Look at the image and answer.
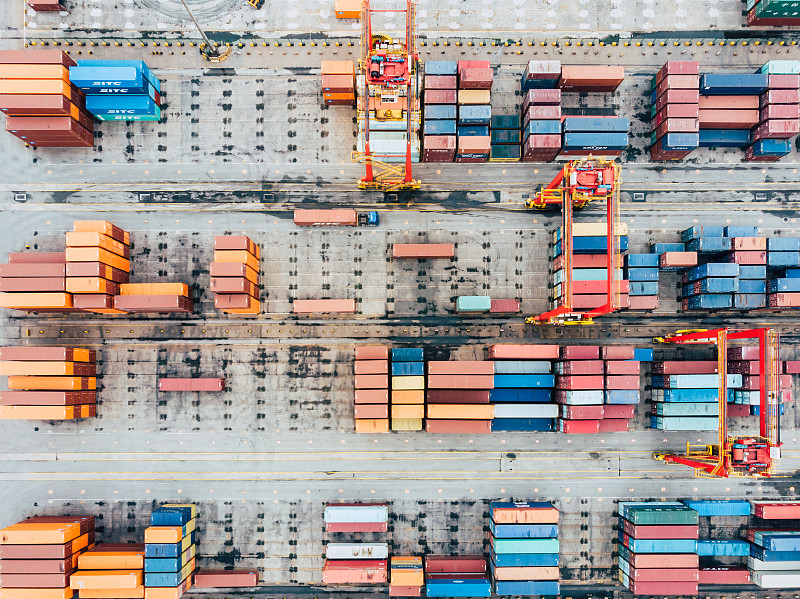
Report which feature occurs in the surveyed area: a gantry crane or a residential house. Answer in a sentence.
The one in the frame is a gantry crane.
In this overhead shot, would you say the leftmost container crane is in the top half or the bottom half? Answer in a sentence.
The leftmost container crane is in the top half of the image.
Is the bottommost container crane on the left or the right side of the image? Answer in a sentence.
The bottommost container crane is on the right side of the image.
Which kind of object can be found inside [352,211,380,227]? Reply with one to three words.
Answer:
vehicle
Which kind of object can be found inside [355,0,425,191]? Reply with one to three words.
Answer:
container crane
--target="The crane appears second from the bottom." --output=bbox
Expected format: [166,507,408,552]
[527,154,623,332]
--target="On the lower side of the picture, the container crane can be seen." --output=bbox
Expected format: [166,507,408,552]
[655,324,780,482]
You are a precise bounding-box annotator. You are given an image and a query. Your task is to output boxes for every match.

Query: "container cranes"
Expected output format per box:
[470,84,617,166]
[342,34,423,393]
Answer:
[655,324,780,482]
[527,154,623,332]
[355,0,425,191]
